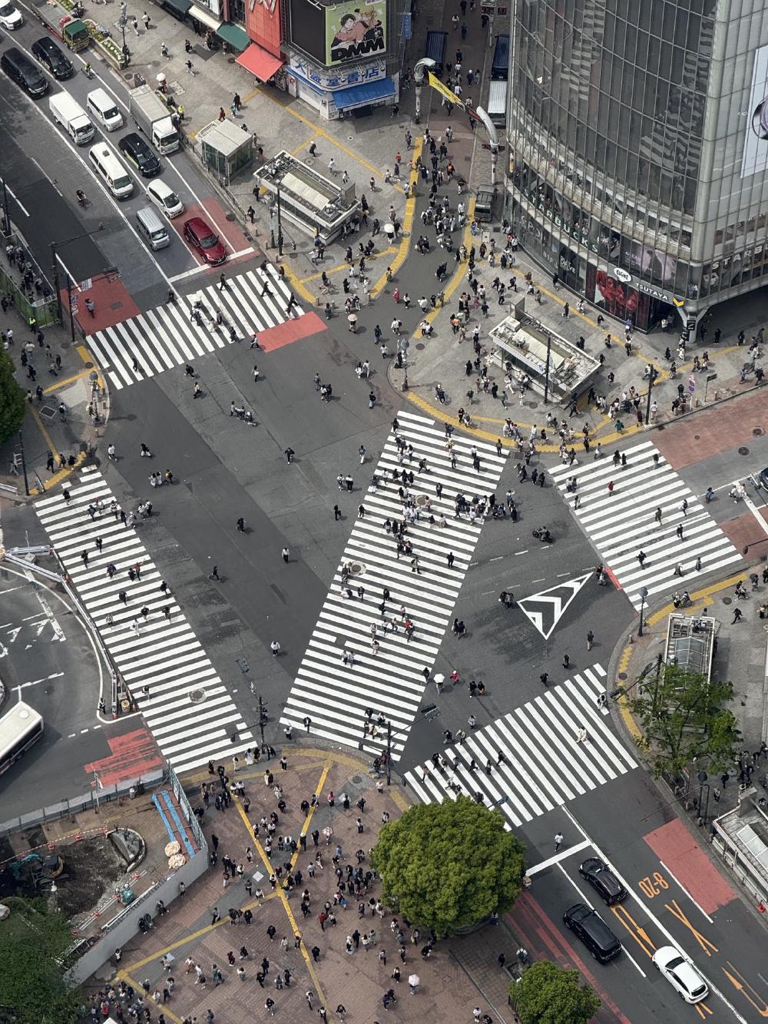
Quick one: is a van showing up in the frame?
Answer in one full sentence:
Yes, the picture does show a van.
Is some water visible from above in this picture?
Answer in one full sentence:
No, water can't be seen anywhere here.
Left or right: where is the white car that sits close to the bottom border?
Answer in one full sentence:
The white car that sits close to the bottom border is on the right side of the image.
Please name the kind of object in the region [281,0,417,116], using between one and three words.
building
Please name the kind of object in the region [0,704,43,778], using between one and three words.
bus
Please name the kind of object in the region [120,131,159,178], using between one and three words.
car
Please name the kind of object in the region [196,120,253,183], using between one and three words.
building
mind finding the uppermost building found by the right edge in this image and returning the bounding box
[498,0,768,350]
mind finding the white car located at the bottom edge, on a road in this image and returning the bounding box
[653,945,710,1007]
